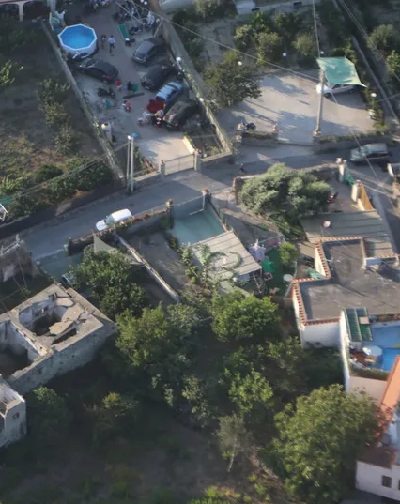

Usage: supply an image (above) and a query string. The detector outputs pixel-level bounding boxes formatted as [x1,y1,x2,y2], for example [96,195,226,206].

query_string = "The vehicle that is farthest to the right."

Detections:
[347,141,393,165]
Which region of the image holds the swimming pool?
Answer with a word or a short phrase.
top left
